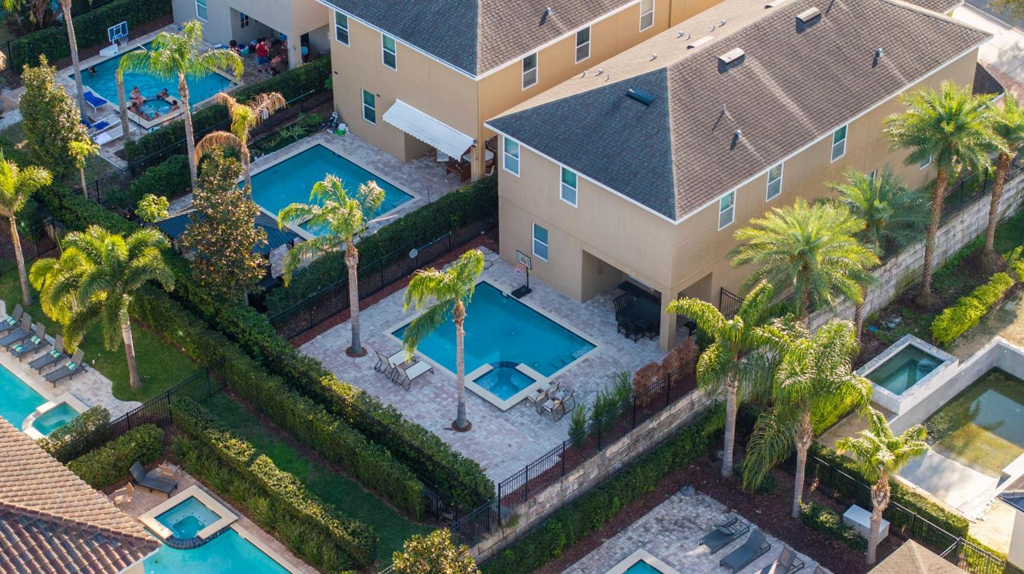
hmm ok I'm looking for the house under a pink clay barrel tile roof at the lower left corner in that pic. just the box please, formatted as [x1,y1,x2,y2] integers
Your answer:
[0,409,164,574]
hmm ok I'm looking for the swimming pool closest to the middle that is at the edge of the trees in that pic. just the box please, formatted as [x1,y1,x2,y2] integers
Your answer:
[380,274,607,410]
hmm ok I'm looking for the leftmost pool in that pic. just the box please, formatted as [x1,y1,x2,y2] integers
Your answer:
[0,355,94,449]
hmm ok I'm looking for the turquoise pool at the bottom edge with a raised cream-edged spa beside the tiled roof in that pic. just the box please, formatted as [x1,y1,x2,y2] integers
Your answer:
[136,483,306,574]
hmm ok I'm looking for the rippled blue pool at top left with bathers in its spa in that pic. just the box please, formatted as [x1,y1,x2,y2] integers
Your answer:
[59,37,241,125]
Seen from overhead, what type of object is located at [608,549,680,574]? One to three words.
swimming pool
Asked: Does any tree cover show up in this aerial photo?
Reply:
Yes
